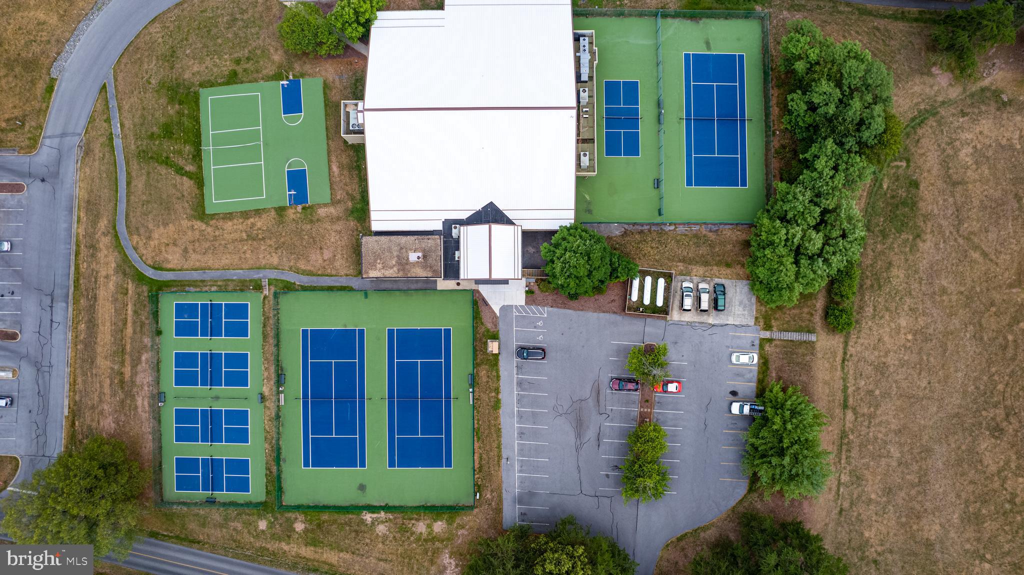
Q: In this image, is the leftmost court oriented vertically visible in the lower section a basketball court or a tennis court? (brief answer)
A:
tennis court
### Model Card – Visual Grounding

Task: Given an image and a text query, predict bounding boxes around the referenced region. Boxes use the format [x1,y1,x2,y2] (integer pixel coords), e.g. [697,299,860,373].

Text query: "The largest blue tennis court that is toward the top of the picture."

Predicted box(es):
[683,52,748,187]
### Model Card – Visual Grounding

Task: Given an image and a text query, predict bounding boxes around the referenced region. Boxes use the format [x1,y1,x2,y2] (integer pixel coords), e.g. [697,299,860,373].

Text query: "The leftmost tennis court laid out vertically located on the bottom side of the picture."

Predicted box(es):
[301,328,367,469]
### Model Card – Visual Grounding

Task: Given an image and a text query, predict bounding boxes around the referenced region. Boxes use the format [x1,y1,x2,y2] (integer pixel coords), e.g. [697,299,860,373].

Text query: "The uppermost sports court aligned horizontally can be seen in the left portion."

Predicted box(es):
[174,302,250,338]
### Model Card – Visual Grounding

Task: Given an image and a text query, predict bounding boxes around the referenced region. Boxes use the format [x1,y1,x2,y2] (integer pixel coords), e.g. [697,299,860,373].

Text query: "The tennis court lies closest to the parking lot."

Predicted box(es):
[386,328,453,469]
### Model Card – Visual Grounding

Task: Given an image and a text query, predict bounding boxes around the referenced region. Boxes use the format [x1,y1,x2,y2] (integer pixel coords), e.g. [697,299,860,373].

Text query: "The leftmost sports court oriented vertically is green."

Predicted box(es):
[209,93,265,202]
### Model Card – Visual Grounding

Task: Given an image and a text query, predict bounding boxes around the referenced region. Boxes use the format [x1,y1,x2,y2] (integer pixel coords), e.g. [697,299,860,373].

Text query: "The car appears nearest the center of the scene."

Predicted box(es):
[517,347,545,361]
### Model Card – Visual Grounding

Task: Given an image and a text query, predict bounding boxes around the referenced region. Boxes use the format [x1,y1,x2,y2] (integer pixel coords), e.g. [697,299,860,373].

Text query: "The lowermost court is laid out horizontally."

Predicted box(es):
[174,457,251,494]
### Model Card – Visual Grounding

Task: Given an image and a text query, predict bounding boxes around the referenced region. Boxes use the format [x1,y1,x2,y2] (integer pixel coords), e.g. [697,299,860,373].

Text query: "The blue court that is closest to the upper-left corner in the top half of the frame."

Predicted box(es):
[280,79,303,124]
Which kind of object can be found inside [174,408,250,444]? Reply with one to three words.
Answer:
sports court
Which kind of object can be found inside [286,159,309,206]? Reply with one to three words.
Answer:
basketball court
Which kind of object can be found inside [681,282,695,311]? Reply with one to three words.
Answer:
car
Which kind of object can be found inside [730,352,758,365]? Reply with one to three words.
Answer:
vehicle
